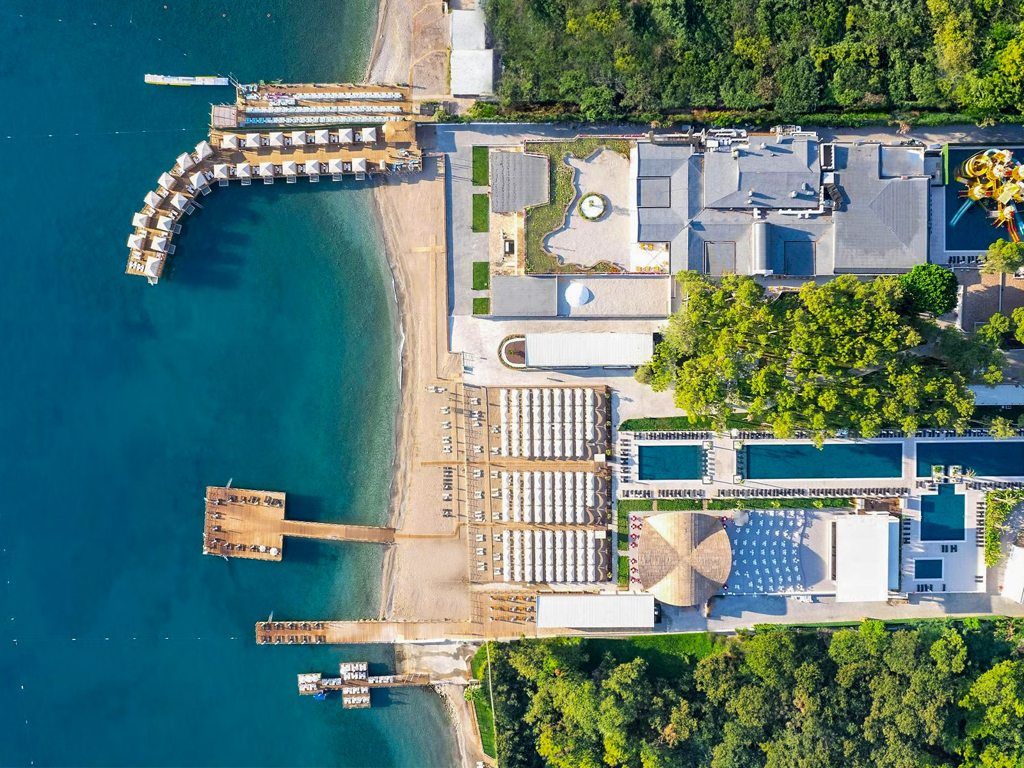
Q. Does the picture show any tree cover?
Yes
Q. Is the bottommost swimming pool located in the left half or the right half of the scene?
right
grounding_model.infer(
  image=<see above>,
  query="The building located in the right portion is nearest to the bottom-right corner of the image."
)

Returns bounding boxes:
[988,541,1024,605]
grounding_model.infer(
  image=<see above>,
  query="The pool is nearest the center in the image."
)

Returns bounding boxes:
[637,444,710,481]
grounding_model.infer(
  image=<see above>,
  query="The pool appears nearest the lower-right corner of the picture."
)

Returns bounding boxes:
[913,558,944,580]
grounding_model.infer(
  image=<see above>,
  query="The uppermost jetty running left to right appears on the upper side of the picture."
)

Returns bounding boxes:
[145,74,229,87]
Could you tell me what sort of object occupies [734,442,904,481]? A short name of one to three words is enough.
swimming pool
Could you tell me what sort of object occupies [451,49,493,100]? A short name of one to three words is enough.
building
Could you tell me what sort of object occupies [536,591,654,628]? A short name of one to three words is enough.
building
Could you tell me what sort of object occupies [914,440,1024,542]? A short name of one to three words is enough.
swimming pool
